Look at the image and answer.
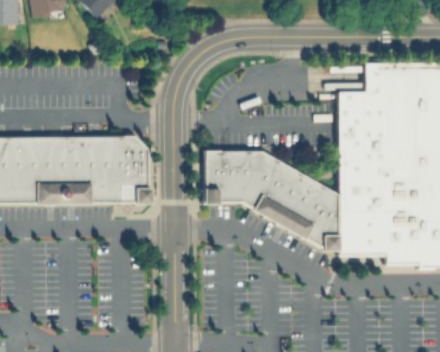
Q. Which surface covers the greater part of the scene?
paved ground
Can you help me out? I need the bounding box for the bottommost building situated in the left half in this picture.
[0,136,153,204]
